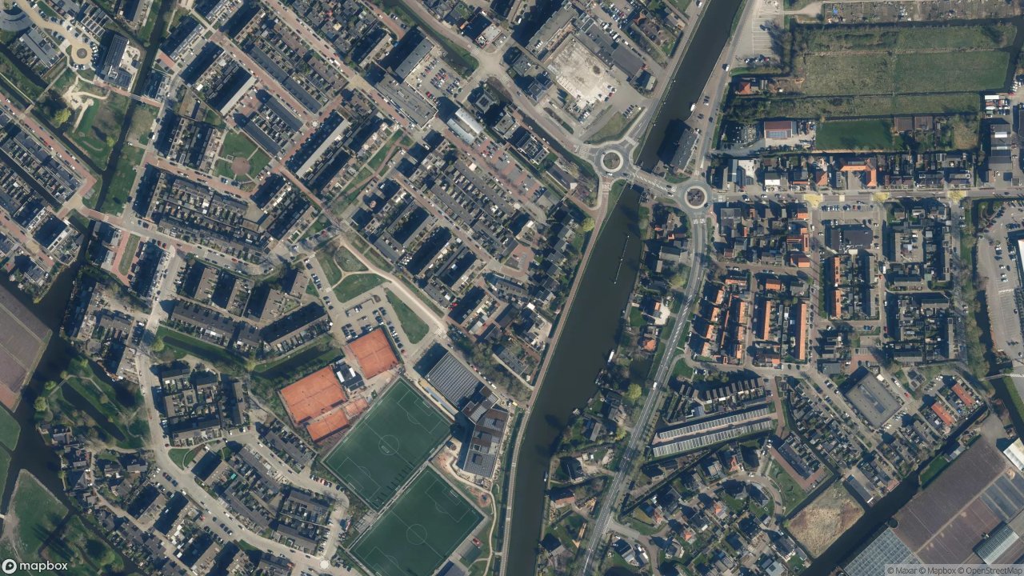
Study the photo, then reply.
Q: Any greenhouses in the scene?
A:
Yes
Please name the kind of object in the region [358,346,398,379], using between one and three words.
tennis court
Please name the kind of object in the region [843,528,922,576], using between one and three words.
greenhouse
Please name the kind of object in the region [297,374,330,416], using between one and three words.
tennis court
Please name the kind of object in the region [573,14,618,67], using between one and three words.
building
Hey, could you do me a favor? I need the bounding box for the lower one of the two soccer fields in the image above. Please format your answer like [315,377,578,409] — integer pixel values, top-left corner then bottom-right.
[349,465,485,576]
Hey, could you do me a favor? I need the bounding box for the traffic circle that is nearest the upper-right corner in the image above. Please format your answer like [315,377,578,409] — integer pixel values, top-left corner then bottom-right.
[679,180,713,214]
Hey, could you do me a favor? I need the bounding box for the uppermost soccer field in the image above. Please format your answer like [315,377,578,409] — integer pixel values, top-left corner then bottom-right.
[324,378,454,510]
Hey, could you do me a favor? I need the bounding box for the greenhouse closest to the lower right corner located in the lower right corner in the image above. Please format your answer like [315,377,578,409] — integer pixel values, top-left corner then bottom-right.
[972,521,1019,564]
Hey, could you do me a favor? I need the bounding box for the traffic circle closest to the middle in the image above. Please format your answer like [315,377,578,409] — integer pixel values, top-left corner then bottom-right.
[595,144,628,177]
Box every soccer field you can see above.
[324,378,454,510]
[349,465,485,576]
